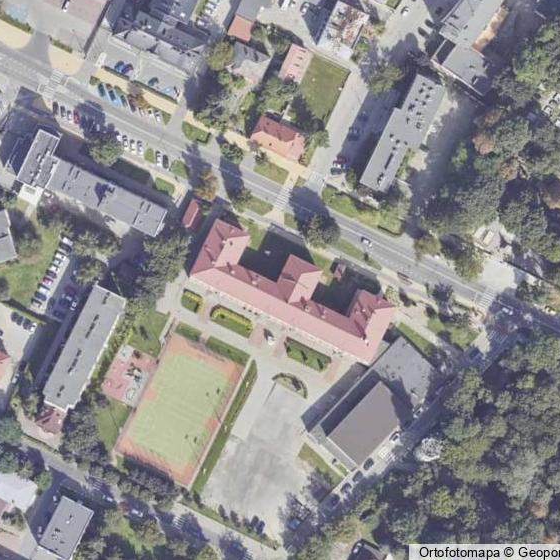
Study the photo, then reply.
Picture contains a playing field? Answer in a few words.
Yes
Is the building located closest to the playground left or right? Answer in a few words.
left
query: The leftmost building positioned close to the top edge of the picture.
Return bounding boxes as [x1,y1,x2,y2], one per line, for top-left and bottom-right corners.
[112,0,210,82]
